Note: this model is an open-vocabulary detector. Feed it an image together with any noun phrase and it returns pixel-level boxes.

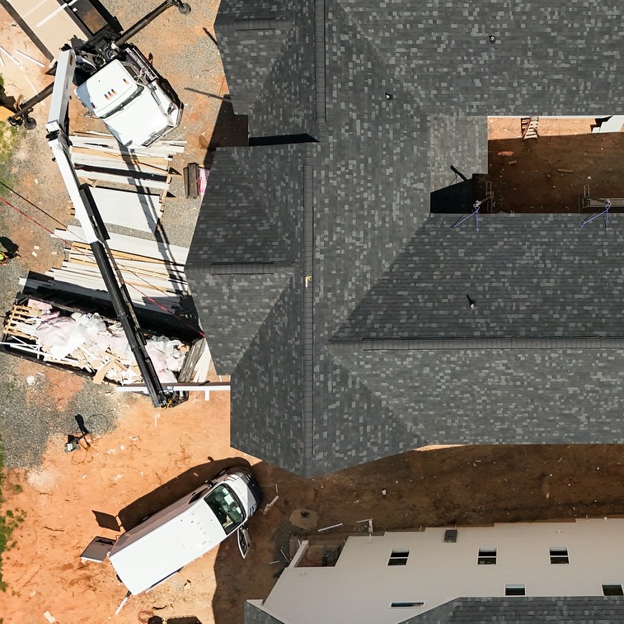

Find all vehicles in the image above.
[90,463,273,611]
[7,0,194,404]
